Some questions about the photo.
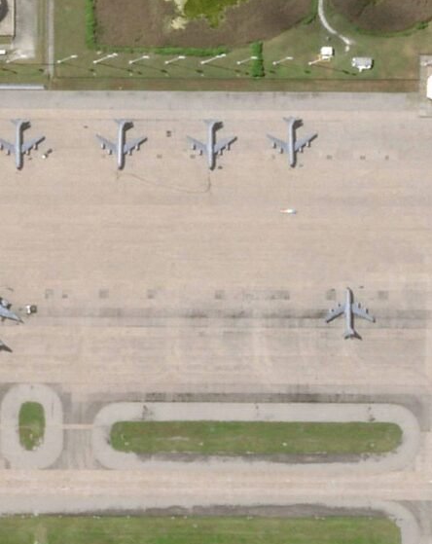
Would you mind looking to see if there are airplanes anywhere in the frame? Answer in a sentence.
Yes, an airplane can be made out from above.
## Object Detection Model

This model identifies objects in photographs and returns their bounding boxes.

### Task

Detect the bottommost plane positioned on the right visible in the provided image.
[325,288,375,339]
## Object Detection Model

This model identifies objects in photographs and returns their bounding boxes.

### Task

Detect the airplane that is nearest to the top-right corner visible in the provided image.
[268,115,317,168]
